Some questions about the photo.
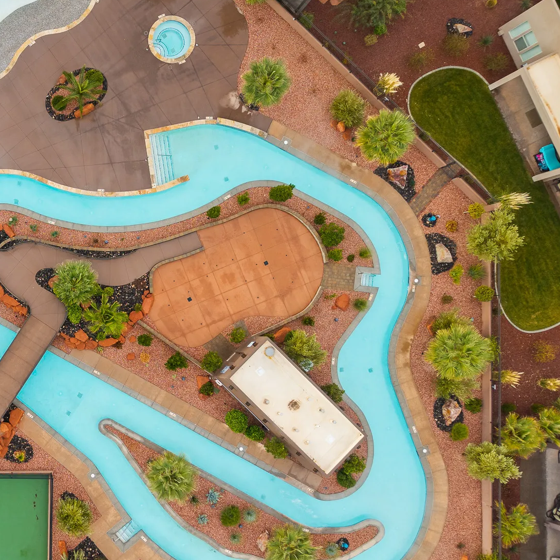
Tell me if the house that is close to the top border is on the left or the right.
right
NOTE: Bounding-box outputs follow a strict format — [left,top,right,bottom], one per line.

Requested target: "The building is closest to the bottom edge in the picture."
[217,338,365,475]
